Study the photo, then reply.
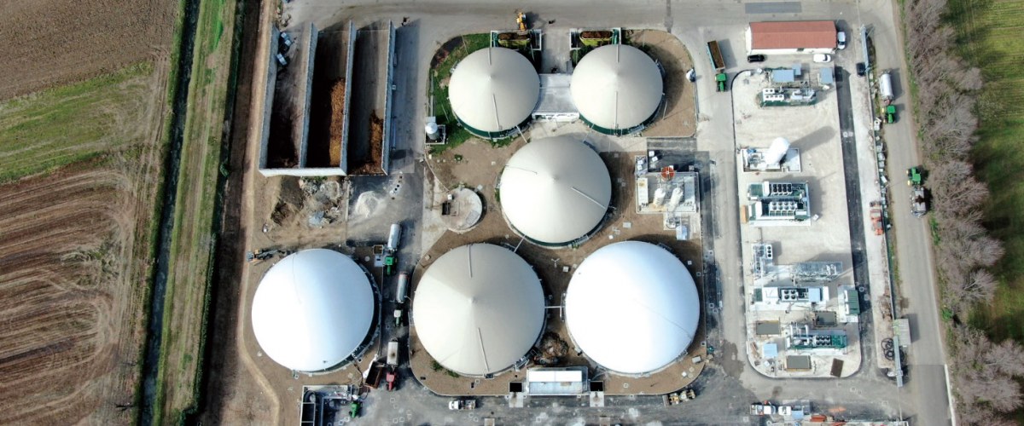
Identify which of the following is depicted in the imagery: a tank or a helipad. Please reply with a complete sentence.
The image shows a tank.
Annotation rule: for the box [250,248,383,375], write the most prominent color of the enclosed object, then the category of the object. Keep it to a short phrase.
white storage tank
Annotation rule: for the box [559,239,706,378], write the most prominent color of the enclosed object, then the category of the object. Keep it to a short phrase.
white storage tank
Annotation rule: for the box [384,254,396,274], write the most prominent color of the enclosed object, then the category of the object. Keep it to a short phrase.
green vehicle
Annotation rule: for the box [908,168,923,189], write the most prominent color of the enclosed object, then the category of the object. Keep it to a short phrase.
green work vehicle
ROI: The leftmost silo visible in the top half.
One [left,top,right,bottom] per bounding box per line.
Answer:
[423,120,446,145]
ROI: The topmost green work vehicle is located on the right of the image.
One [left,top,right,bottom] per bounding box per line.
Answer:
[715,74,727,95]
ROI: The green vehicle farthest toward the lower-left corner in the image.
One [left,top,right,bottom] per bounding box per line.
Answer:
[347,401,359,422]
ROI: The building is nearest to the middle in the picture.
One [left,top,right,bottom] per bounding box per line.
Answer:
[533,73,579,123]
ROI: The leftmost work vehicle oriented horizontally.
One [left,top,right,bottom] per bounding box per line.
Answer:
[240,246,287,262]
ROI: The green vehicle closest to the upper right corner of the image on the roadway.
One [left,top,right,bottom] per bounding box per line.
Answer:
[884,105,898,127]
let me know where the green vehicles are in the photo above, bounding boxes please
[347,401,359,422]
[908,168,923,189]
[715,74,727,95]
[884,105,898,127]
[384,254,396,274]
